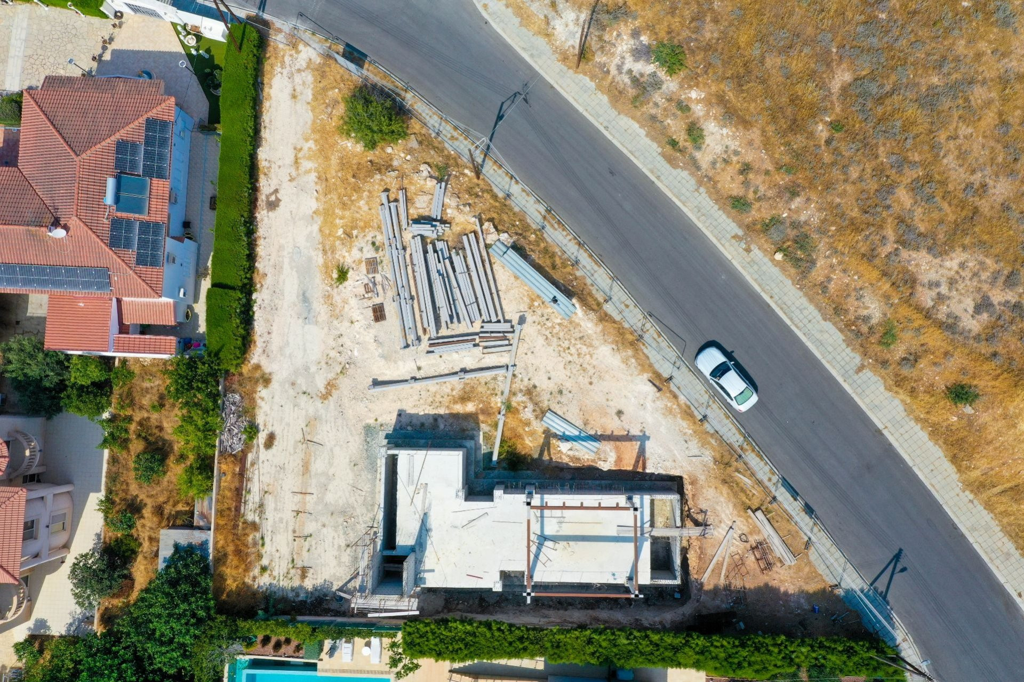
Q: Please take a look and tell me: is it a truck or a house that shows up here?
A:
house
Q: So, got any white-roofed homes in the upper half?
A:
No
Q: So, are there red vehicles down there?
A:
No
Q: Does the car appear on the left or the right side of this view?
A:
right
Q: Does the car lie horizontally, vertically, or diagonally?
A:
diagonally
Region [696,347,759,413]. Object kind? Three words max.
car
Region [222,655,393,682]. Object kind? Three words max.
swimming pool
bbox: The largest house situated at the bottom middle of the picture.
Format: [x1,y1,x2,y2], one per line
[367,431,683,596]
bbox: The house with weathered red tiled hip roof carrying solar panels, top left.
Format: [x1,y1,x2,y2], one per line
[0,75,201,358]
